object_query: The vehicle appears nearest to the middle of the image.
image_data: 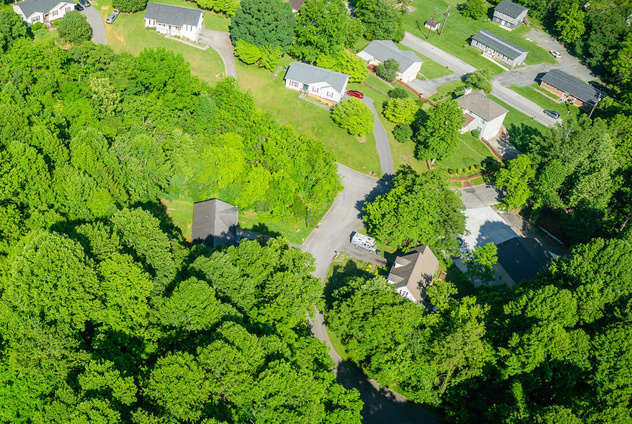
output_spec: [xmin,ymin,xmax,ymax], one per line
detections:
[350,231,378,252]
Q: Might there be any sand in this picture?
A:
No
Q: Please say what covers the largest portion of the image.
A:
trees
